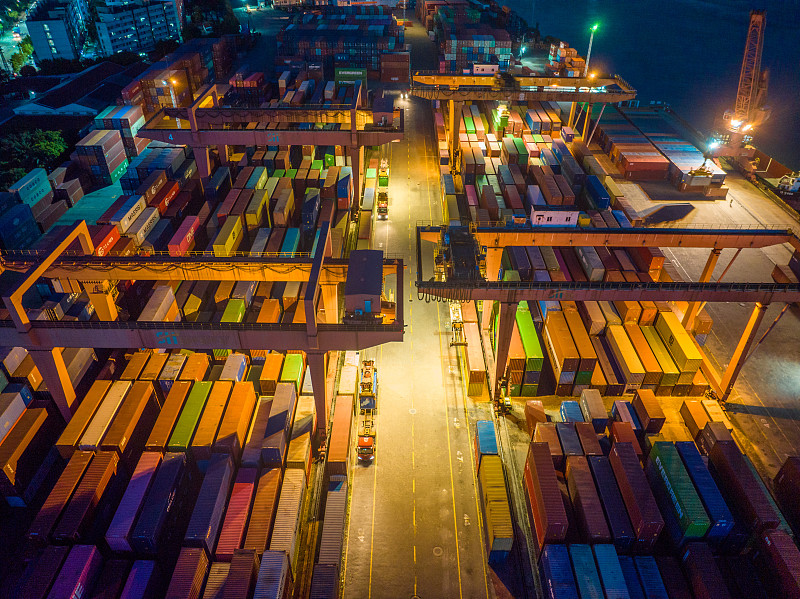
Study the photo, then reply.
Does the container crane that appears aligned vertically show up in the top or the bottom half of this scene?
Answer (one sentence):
The container crane that appears aligned vertically is in the top half of the image.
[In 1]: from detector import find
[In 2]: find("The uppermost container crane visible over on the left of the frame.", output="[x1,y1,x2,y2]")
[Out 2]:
[130,80,402,220]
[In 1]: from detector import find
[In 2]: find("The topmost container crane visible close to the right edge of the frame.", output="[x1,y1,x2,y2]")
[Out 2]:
[692,6,767,182]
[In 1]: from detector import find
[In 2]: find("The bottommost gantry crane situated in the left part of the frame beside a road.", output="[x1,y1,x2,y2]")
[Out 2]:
[0,223,402,457]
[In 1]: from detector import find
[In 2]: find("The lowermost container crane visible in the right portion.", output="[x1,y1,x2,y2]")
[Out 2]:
[418,204,800,408]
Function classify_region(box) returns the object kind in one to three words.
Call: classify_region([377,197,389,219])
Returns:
vehicle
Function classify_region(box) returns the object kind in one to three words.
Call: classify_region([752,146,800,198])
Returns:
ship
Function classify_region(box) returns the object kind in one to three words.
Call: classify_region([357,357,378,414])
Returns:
truck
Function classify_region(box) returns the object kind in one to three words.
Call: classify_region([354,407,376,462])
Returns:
truck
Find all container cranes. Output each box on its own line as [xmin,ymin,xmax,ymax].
[412,59,640,174]
[130,80,402,220]
[418,204,800,408]
[0,223,402,457]
[692,6,767,182]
